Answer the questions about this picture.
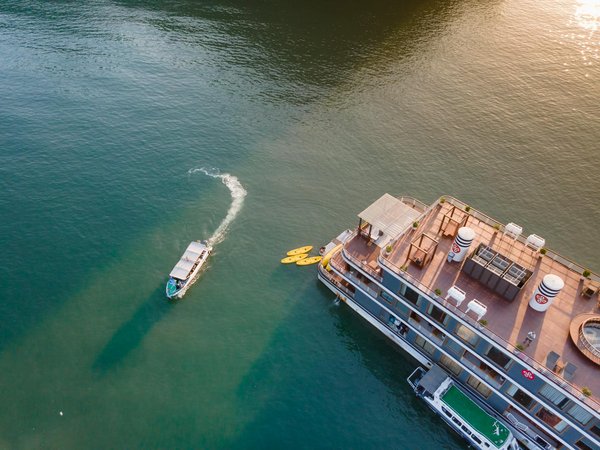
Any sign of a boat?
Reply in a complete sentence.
Yes, you can see a boat in this photo.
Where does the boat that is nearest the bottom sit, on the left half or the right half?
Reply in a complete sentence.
The boat that is nearest the bottom appears in the right half of the scene.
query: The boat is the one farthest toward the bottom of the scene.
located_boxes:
[406,367,529,450]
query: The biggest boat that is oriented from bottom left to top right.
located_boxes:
[169,242,217,299]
